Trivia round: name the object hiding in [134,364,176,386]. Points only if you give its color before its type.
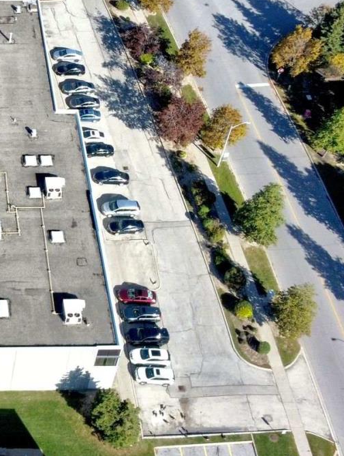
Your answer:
white car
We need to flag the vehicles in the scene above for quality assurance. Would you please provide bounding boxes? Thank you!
[134,364,176,386]
[93,169,129,186]
[70,109,104,124]
[85,141,117,159]
[68,95,101,110]
[117,287,158,305]
[107,217,145,234]
[61,79,94,95]
[129,345,171,367]
[101,198,140,216]
[127,324,169,345]
[83,128,109,143]
[121,304,163,324]
[52,49,84,63]
[54,62,85,77]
